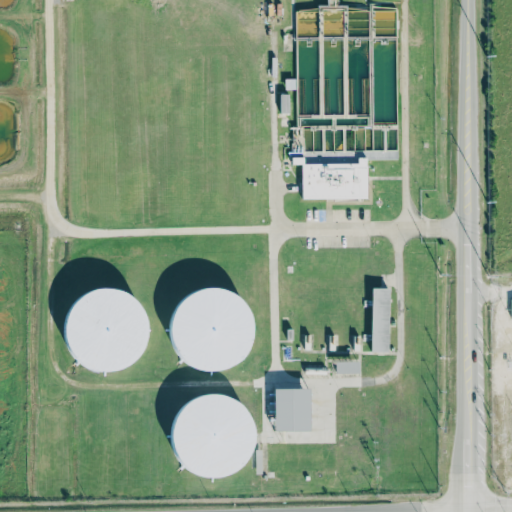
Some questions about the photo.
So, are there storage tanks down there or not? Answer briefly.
Yes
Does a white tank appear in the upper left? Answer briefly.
No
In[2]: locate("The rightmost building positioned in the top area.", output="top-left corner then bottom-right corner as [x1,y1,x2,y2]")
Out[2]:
[292,158,368,202]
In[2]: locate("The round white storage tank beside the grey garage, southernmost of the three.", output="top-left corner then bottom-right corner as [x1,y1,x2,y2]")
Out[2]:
[167,393,256,482]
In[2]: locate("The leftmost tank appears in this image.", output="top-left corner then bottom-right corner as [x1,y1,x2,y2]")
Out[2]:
[61,288,148,374]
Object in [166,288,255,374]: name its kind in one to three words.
storage tank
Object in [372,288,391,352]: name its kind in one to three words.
shed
